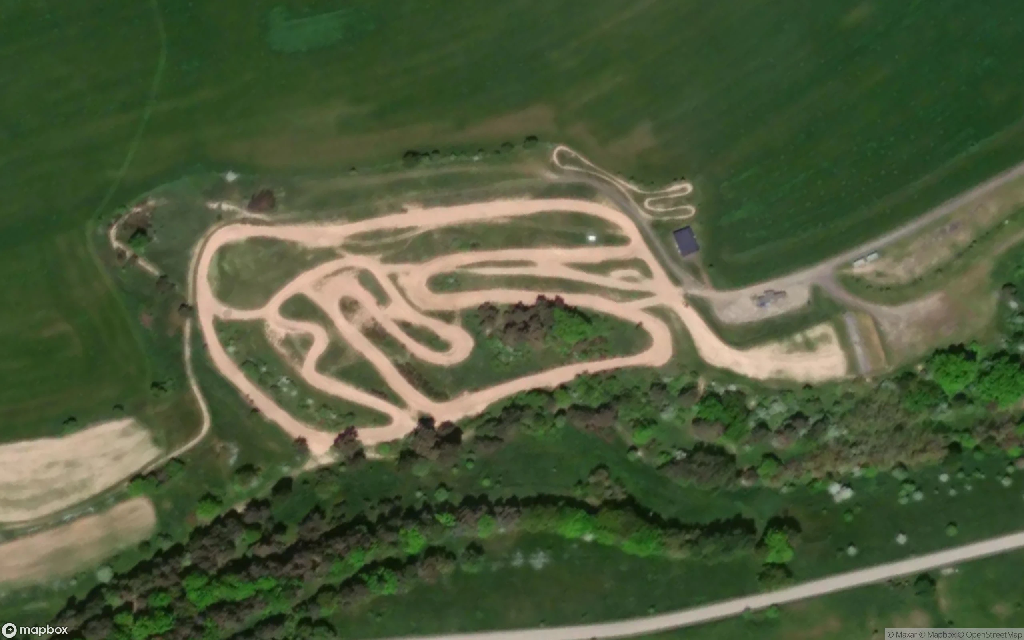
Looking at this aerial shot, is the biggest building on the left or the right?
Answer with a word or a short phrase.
right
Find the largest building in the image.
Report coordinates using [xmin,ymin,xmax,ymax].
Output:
[673,226,699,257]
